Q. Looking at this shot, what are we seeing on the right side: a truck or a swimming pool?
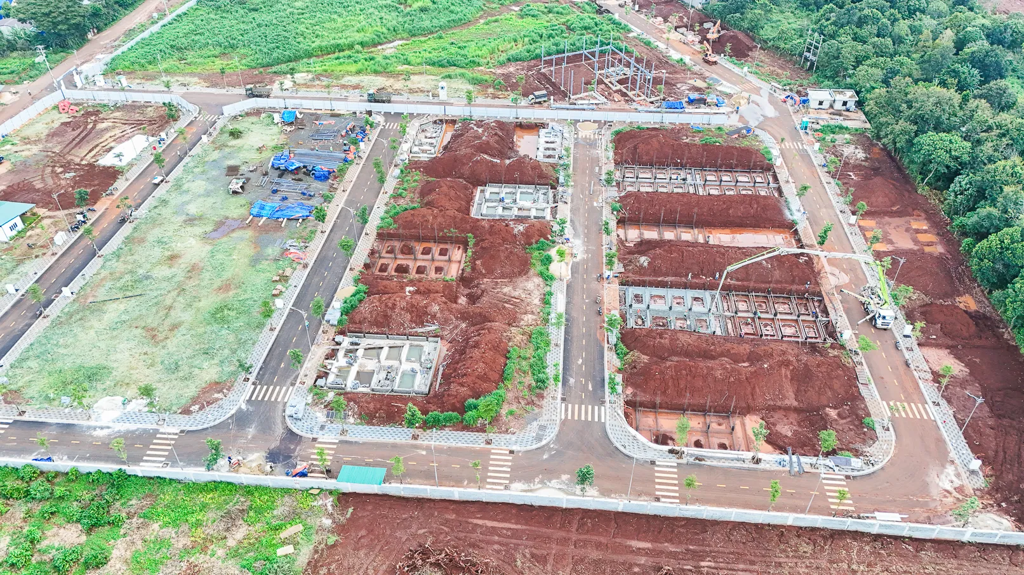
truck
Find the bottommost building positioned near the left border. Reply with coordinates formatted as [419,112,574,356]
[0,197,42,241]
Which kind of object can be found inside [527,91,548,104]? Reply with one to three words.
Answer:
vehicle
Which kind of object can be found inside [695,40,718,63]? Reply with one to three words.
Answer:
work vehicle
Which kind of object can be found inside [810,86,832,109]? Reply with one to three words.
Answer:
shed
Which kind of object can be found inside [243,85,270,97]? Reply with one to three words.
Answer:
vehicle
